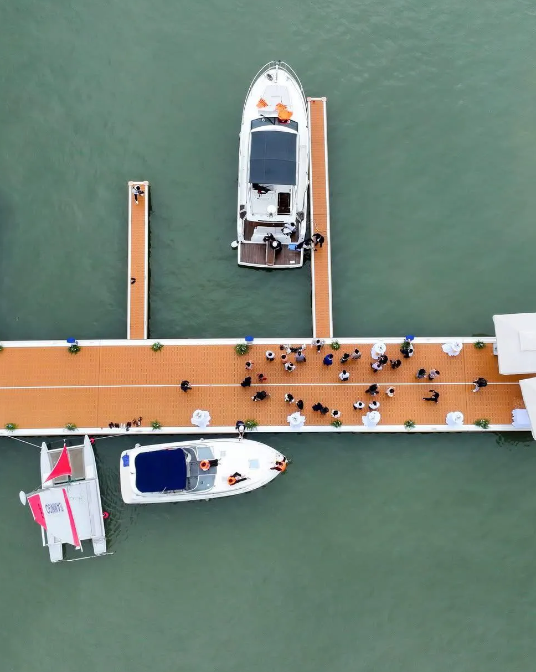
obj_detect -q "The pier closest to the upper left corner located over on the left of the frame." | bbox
[125,180,154,339]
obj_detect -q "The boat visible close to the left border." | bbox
[22,434,115,565]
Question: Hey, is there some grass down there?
No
